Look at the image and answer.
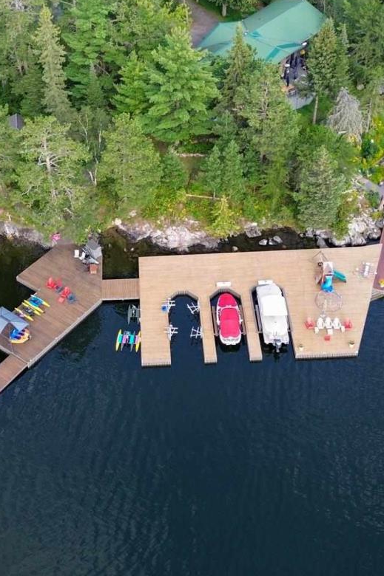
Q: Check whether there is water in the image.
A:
Yes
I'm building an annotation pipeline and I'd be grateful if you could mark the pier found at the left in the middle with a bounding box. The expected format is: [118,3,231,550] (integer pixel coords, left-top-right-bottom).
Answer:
[0,242,103,366]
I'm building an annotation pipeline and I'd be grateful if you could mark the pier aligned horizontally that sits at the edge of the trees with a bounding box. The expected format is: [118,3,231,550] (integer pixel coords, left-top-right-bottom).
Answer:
[139,244,383,367]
